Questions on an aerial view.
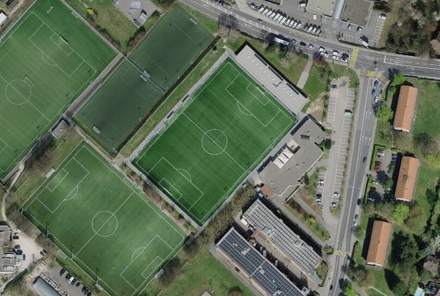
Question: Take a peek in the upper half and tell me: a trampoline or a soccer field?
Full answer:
What appears in the upper half is a soccer field.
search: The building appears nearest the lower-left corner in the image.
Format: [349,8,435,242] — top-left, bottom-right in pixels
[0,251,17,273]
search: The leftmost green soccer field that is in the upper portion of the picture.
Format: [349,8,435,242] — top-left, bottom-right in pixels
[0,0,120,180]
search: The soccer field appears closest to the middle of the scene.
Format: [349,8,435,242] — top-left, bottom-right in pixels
[132,56,298,225]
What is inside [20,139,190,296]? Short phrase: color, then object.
green soccer field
